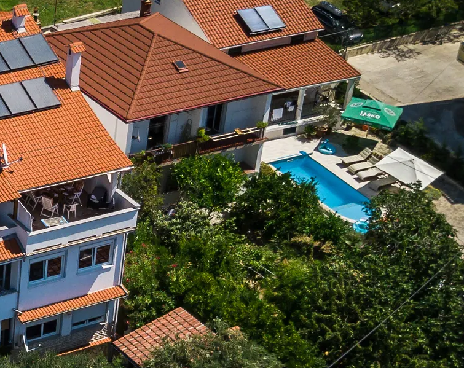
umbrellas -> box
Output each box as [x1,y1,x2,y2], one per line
[335,98,409,148]
[370,150,451,202]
